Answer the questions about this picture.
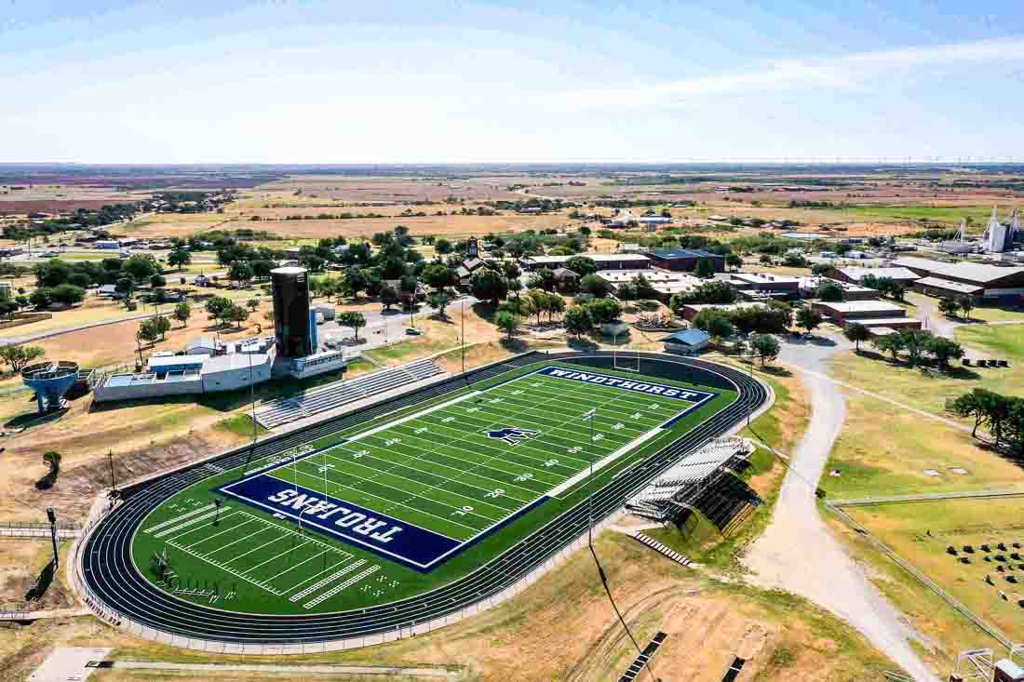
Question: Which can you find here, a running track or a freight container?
running track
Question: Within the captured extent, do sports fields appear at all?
Yes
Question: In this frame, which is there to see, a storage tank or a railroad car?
storage tank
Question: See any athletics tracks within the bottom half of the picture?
Yes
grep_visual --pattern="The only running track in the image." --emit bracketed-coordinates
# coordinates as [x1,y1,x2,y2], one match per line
[74,351,767,648]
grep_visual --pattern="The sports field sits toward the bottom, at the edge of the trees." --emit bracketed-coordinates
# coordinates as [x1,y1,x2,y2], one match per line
[264,374,696,542]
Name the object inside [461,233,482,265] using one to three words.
building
